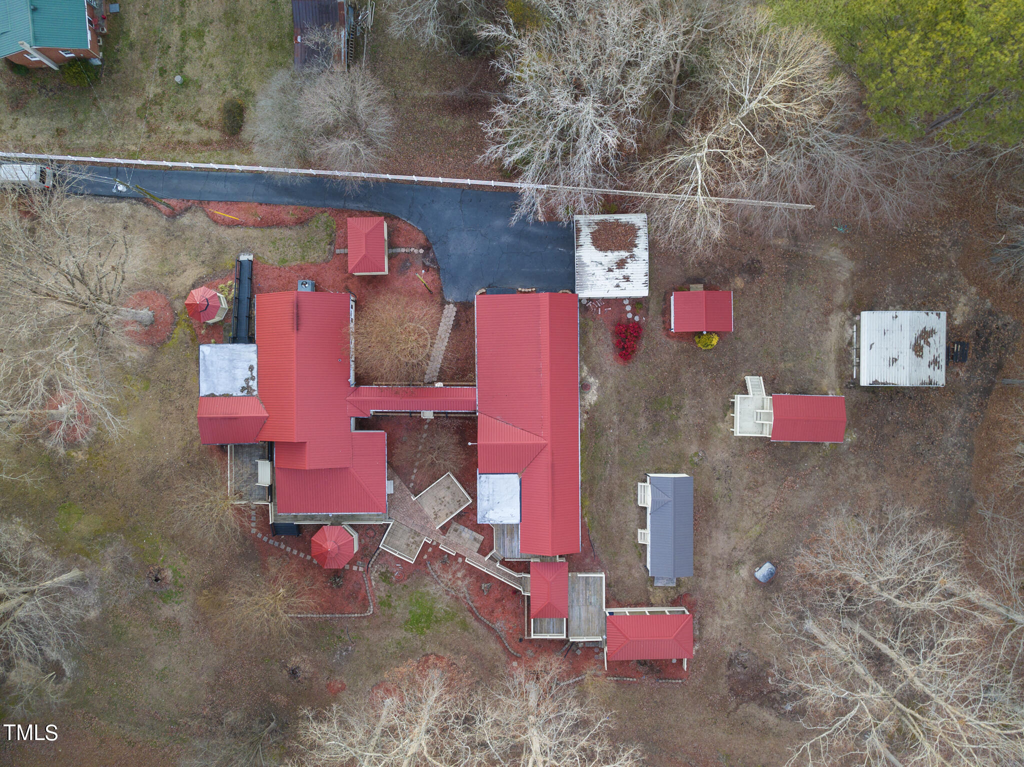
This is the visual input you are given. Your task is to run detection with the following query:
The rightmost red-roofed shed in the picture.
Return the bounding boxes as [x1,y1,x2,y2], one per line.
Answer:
[730,376,847,444]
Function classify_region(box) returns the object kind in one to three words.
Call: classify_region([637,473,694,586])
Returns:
shed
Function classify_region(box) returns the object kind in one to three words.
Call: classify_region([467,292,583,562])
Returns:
house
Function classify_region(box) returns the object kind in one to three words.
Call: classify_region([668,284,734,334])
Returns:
shed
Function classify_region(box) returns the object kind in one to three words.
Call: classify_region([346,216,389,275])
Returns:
building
